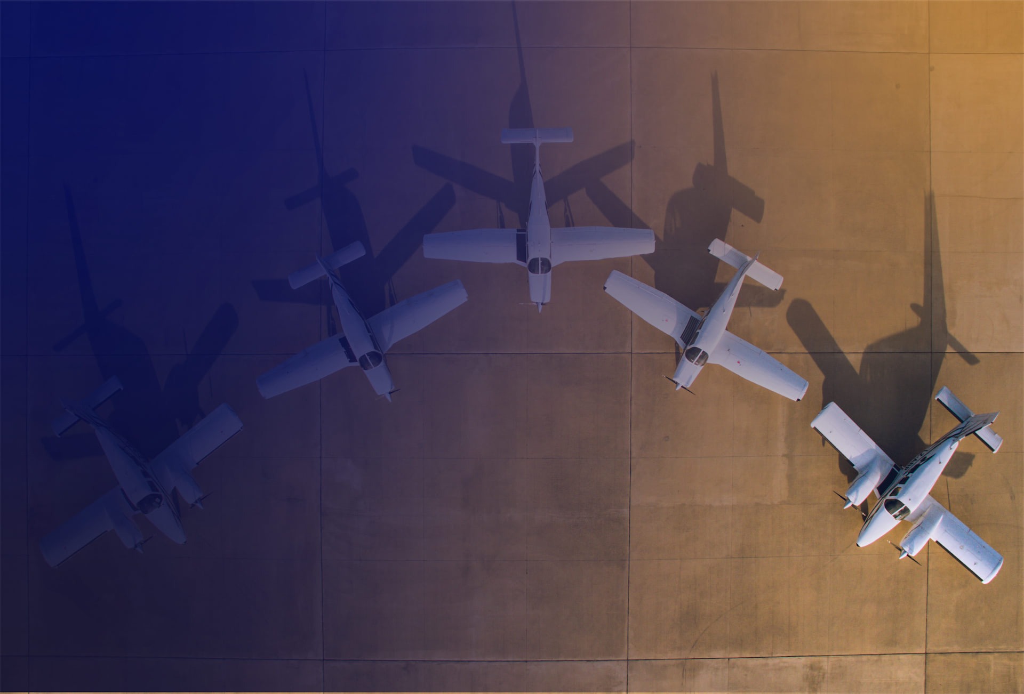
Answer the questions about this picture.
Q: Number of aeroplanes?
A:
5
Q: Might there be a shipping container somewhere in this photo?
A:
No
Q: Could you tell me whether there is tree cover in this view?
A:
No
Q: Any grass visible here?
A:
No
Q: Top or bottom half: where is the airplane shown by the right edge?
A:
bottom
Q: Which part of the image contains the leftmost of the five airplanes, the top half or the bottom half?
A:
bottom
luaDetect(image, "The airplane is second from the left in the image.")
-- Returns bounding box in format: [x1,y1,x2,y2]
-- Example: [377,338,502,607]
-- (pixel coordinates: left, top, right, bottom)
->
[257,241,467,401]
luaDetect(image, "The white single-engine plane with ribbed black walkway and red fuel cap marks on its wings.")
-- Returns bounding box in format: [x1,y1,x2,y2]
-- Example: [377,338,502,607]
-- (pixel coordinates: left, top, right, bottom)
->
[603,239,808,402]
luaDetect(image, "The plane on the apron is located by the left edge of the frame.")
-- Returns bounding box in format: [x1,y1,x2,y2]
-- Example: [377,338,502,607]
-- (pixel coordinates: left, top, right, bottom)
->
[39,376,242,564]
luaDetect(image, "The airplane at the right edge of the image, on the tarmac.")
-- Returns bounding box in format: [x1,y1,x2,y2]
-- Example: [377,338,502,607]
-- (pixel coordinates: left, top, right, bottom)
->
[813,387,1005,580]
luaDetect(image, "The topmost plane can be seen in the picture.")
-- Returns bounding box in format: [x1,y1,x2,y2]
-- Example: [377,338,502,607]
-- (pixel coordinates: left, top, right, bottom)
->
[423,128,655,312]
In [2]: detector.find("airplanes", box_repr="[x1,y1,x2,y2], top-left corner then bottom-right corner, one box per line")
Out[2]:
[257,241,467,401]
[39,376,242,564]
[423,128,655,312]
[813,387,1005,580]
[603,239,808,402]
